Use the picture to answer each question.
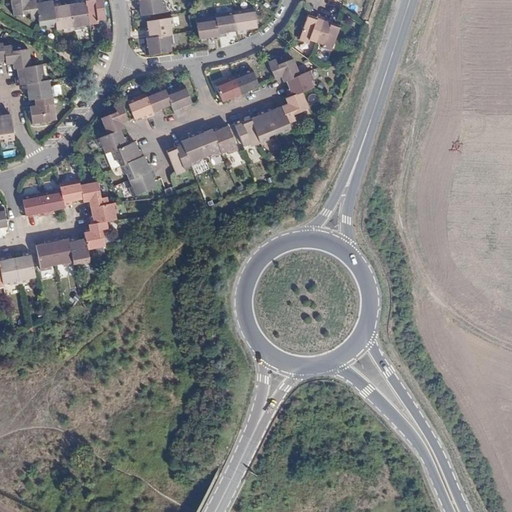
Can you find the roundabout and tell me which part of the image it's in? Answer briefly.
center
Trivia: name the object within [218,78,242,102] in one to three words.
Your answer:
house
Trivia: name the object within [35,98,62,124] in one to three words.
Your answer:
house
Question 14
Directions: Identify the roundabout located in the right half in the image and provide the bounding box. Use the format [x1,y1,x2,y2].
[232,227,384,378]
